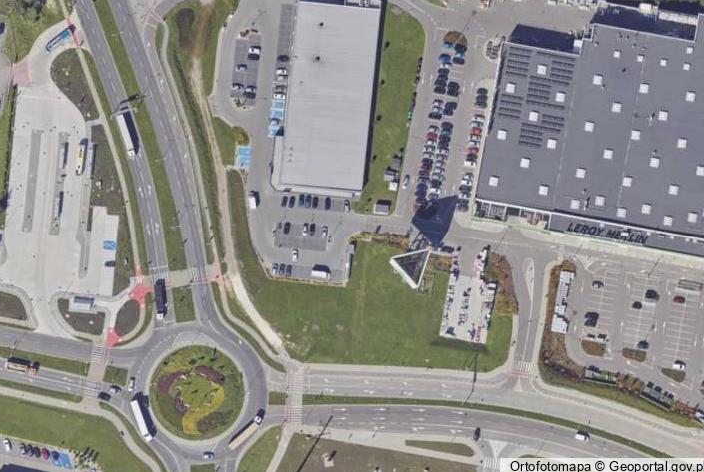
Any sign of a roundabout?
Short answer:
Yes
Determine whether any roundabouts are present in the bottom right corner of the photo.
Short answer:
No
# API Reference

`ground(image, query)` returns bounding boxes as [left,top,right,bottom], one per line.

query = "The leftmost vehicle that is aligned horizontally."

[7,360,37,374]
